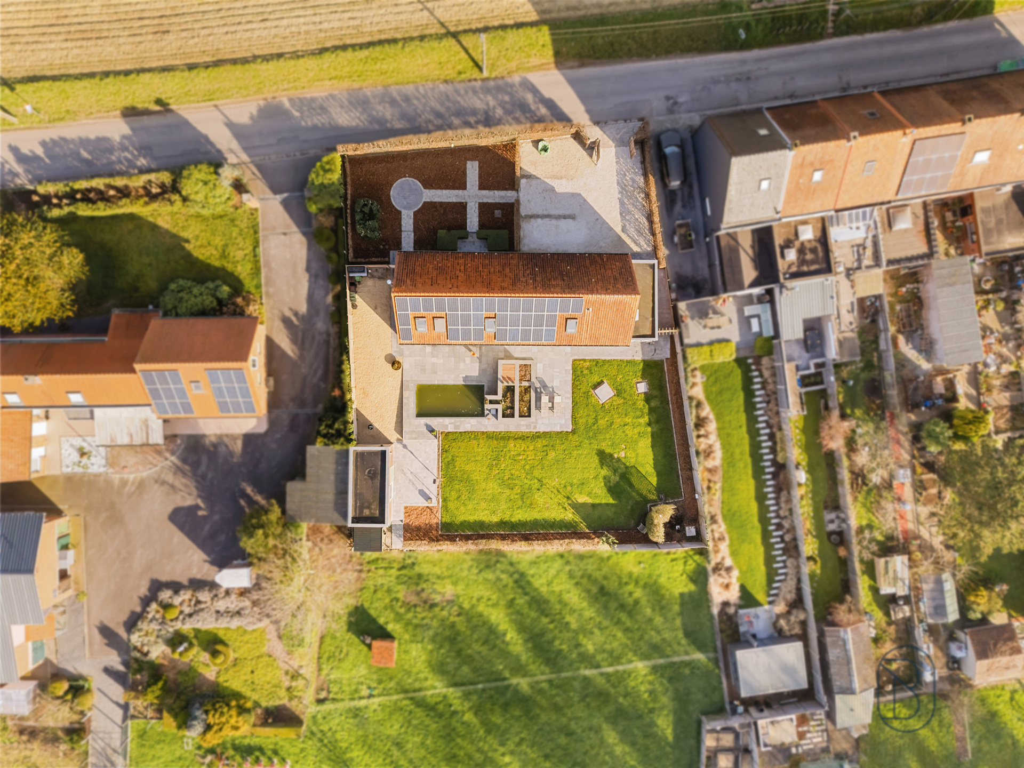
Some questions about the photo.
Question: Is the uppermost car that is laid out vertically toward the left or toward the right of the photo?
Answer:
right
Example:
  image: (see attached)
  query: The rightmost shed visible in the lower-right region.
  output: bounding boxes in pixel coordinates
[949,606,1024,686]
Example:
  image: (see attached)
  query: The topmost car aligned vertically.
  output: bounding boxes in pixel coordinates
[658,136,683,188]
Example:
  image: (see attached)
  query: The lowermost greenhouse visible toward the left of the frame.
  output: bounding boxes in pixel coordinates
[0,677,47,715]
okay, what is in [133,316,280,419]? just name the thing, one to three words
house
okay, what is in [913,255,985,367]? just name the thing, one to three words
shed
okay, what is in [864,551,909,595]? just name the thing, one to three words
shed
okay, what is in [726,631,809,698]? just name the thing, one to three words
building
